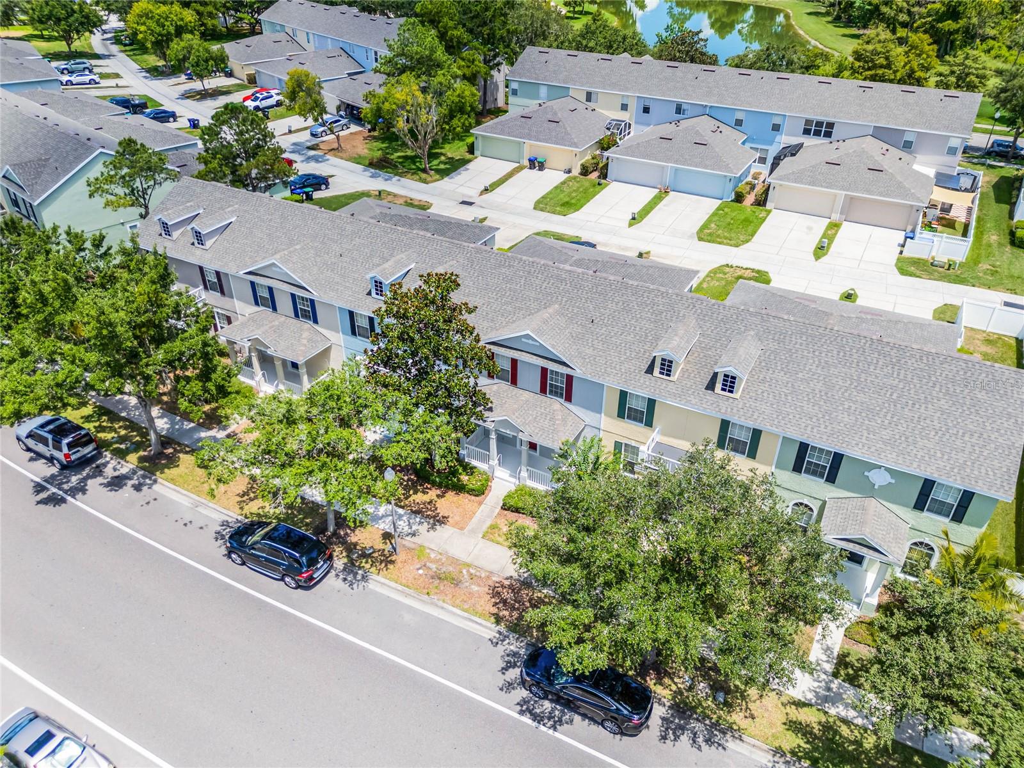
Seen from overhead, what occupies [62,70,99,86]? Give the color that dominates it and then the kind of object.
white car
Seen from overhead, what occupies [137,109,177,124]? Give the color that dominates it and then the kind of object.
blue car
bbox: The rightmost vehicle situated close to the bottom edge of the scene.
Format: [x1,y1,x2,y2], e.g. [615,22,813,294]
[517,642,656,737]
